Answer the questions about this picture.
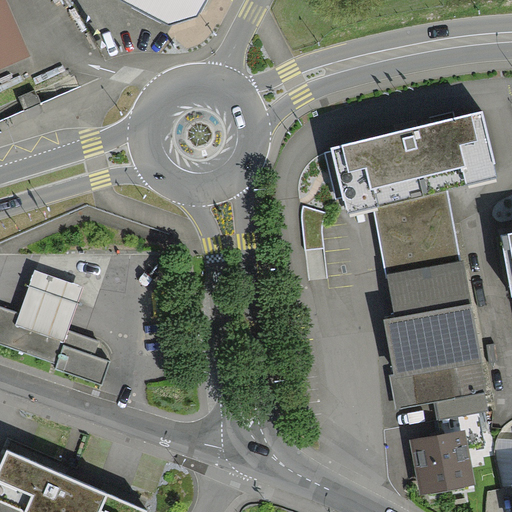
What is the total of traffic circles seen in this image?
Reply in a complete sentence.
The picture shows 1 traffic circle.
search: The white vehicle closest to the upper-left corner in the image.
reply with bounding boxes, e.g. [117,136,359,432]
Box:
[101,30,118,56]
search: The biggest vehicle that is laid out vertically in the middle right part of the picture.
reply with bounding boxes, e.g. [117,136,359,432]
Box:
[472,276,486,306]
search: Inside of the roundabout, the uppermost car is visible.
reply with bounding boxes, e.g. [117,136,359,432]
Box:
[232,106,245,130]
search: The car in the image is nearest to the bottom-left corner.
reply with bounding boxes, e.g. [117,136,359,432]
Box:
[116,385,132,408]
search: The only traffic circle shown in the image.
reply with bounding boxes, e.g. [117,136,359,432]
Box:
[128,63,270,205]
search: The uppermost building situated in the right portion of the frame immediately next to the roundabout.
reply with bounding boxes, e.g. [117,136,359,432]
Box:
[324,110,497,223]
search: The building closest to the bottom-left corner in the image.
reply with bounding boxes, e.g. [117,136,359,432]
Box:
[0,450,146,512]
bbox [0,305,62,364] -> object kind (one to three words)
building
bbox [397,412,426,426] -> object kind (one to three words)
vehicle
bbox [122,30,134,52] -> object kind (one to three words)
vehicle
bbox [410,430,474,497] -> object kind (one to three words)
house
